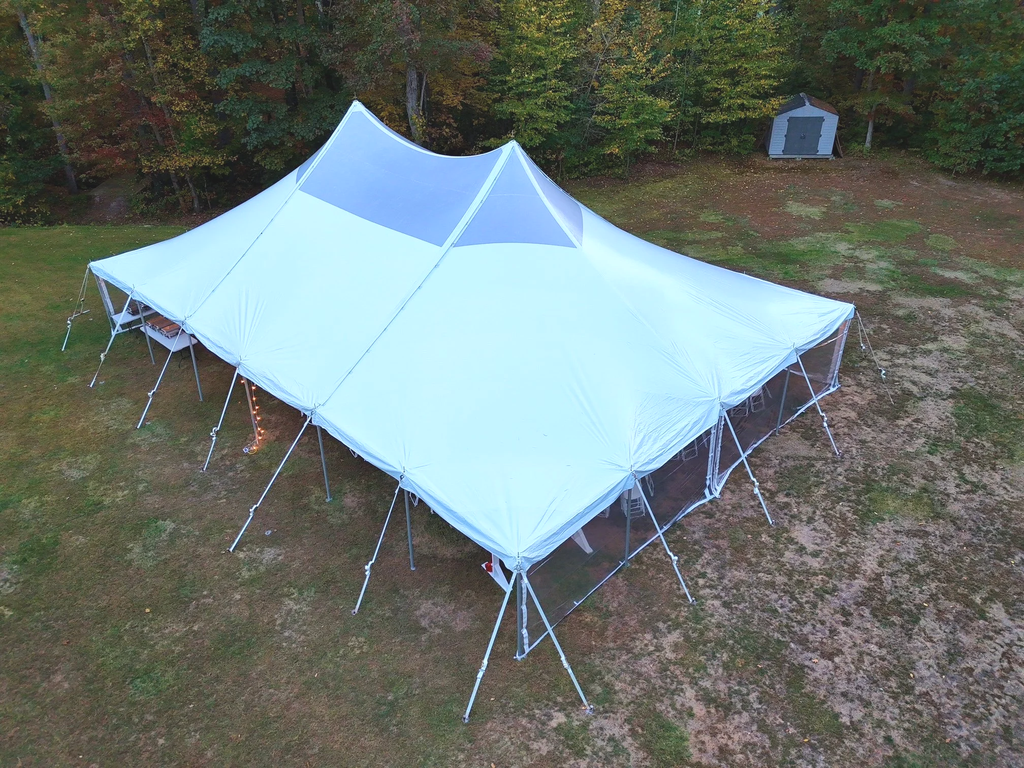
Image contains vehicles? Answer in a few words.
No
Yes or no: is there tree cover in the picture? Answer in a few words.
Yes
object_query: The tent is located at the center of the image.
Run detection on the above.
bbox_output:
[61,88,895,722]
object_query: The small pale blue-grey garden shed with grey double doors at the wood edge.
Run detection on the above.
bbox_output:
[760,91,844,159]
